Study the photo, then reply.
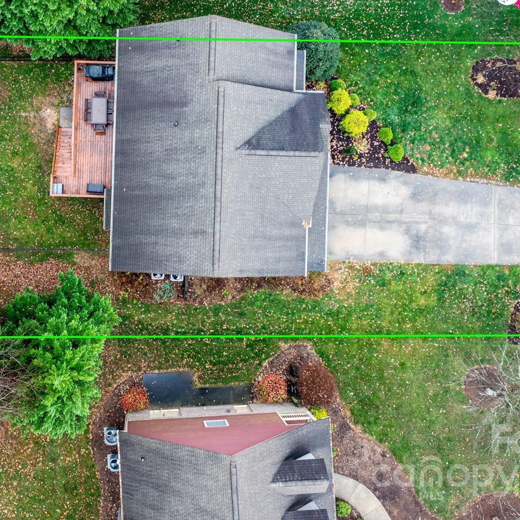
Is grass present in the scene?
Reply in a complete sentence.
Yes, the picture does contain grass.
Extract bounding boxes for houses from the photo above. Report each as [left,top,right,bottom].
[102,15,330,277]
[117,404,336,520]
